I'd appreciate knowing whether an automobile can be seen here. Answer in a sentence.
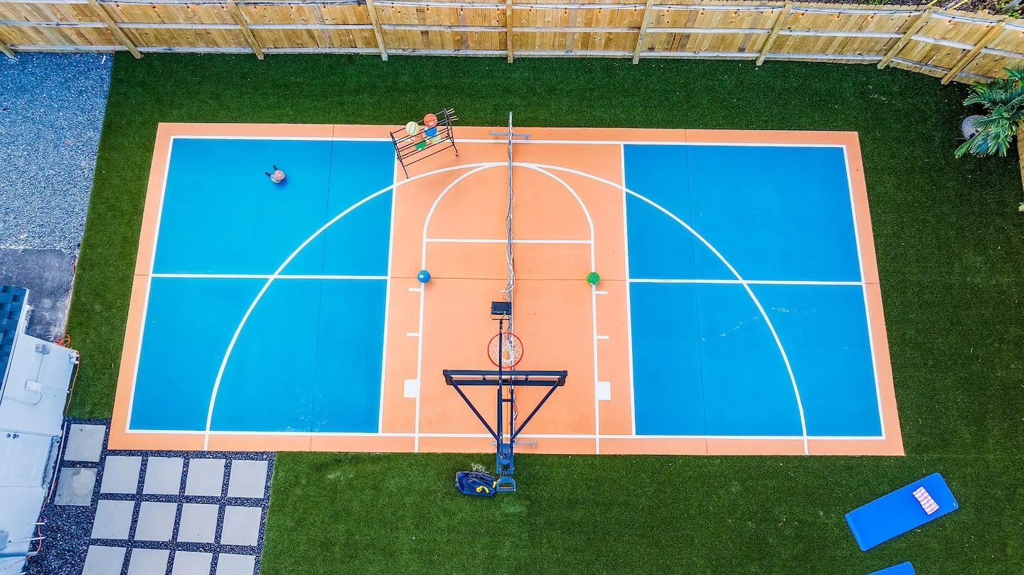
No, the scene contains no automobile.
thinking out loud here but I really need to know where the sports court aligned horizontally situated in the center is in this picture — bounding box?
[107,123,905,456]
